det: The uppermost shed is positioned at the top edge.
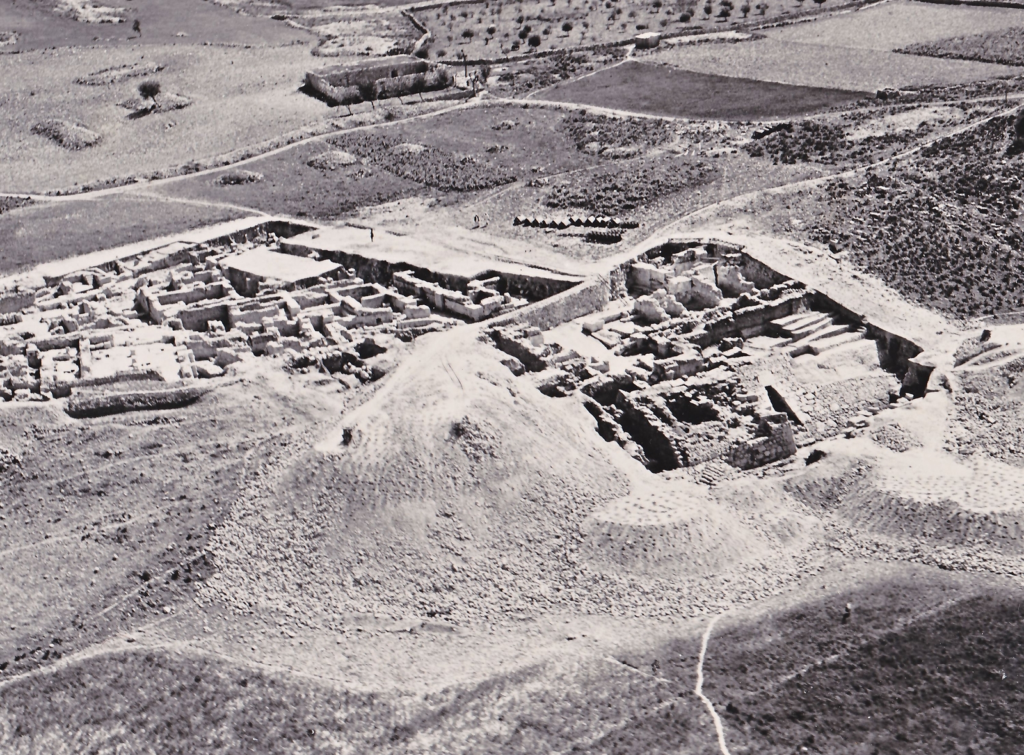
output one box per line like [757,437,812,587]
[634,33,660,50]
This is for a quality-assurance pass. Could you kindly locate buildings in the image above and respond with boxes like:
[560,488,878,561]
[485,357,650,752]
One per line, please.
[634,33,660,50]
[305,57,428,92]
